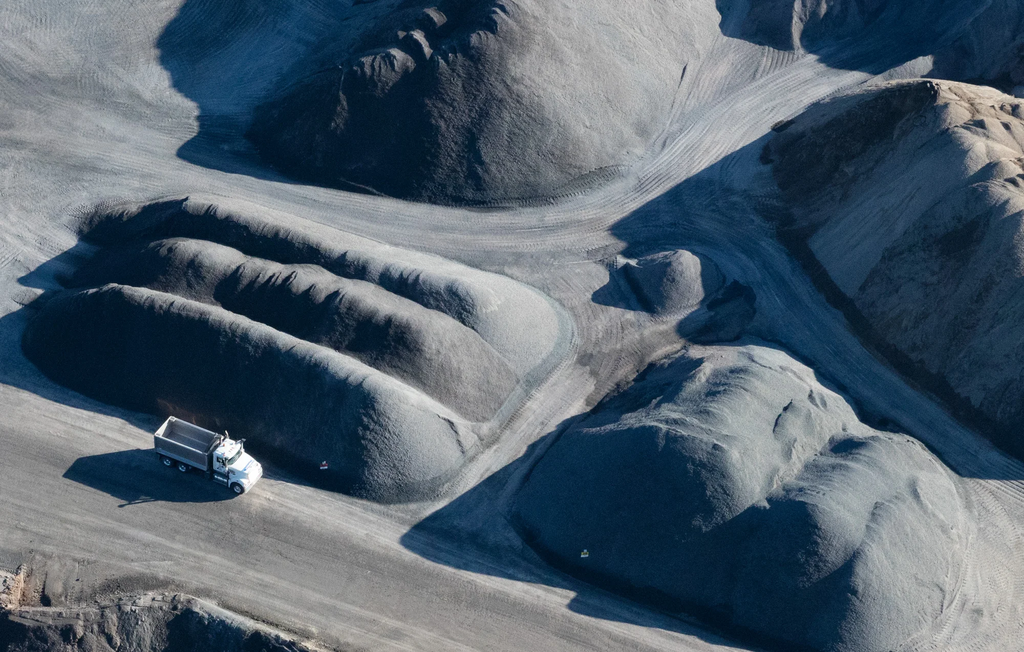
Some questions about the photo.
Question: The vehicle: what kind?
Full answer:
The vehicle appears to be a truck.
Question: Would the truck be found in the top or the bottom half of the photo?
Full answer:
You can find the truck in the bottom half.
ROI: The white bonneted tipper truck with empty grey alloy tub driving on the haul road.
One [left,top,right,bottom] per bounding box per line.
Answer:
[154,415,263,494]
